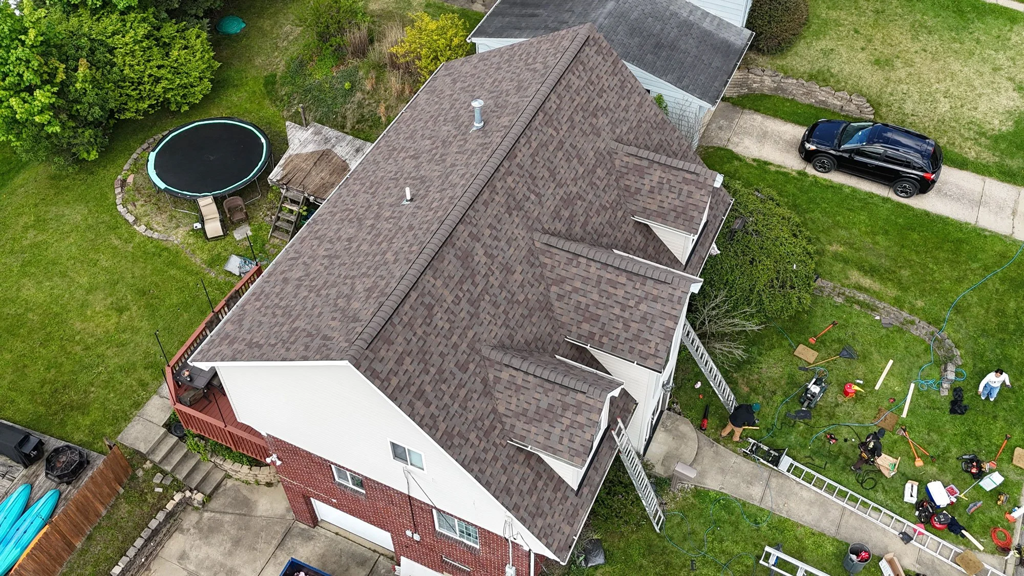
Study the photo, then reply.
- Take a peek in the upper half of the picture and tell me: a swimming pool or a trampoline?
trampoline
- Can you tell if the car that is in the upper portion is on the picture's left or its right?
right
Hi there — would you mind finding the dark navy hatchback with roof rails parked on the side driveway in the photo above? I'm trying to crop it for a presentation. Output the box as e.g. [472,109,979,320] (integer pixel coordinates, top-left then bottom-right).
[799,116,948,197]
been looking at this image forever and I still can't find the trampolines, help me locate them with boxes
[147,118,276,219]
